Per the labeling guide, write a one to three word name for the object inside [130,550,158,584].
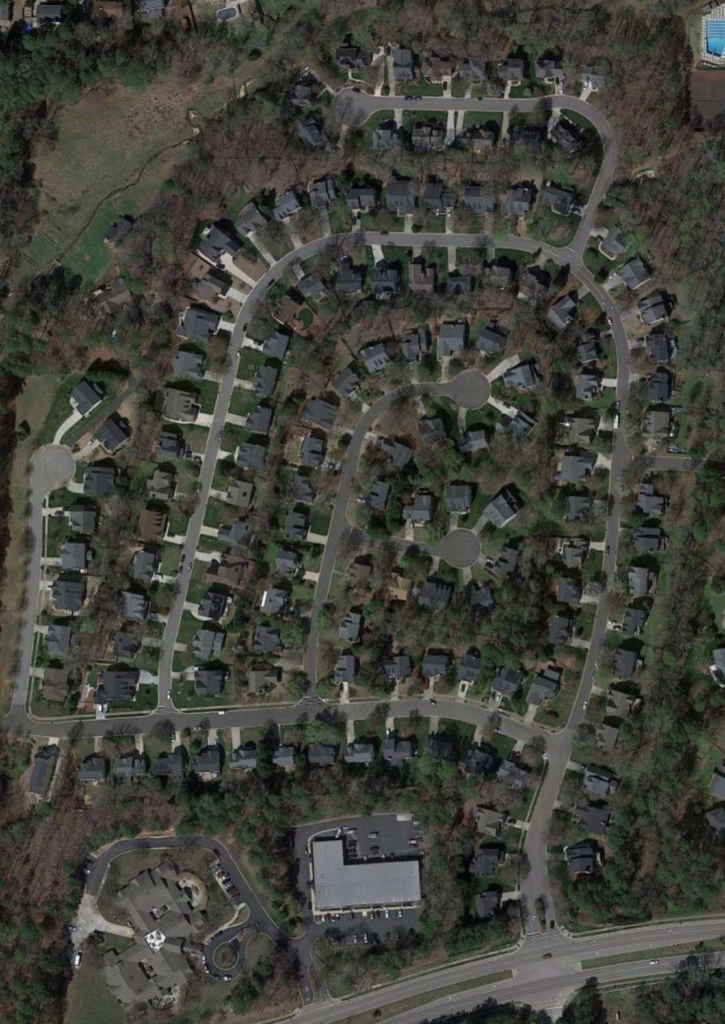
house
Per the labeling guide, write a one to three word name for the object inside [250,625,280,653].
house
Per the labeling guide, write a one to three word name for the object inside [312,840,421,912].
building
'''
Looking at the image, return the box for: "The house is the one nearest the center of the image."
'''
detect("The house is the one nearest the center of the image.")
[368,480,391,510]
